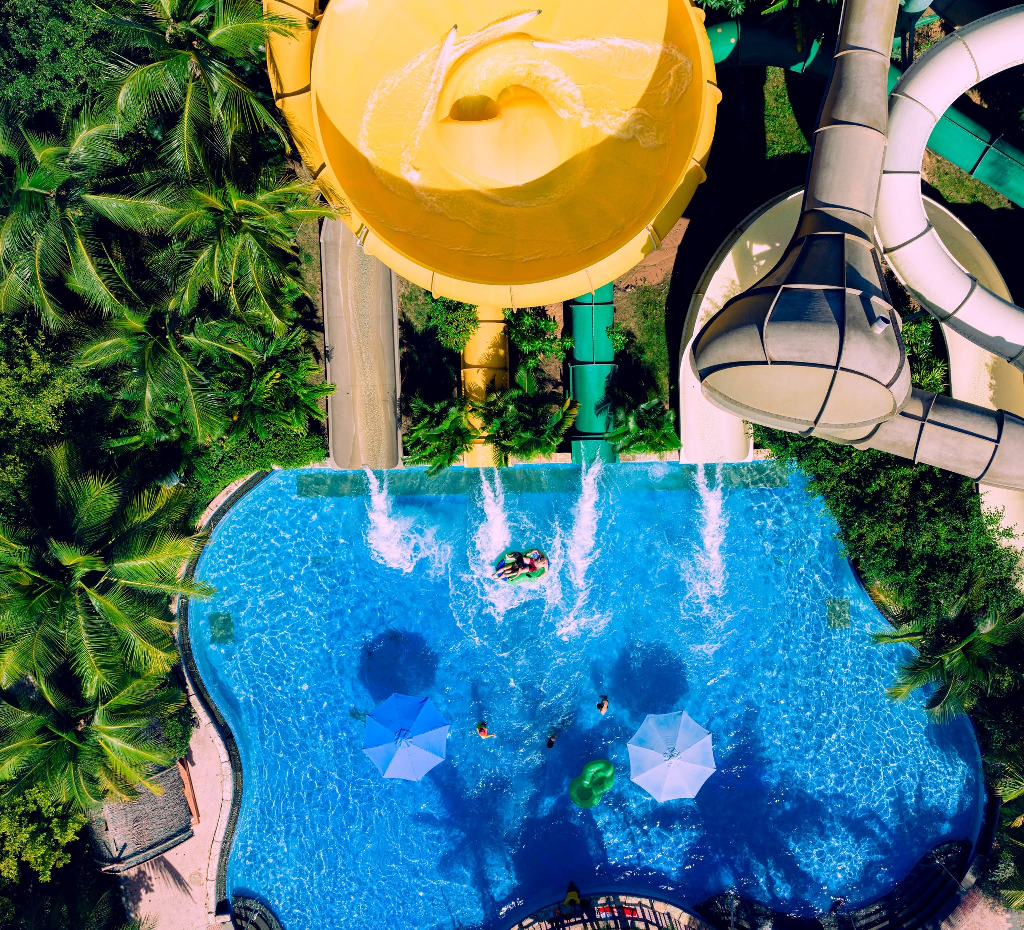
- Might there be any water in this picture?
Yes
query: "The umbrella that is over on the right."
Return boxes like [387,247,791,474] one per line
[625,710,717,804]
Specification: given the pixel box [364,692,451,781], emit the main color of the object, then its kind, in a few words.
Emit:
blue umbrella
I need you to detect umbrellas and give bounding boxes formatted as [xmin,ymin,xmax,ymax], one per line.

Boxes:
[364,692,451,781]
[625,710,717,804]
